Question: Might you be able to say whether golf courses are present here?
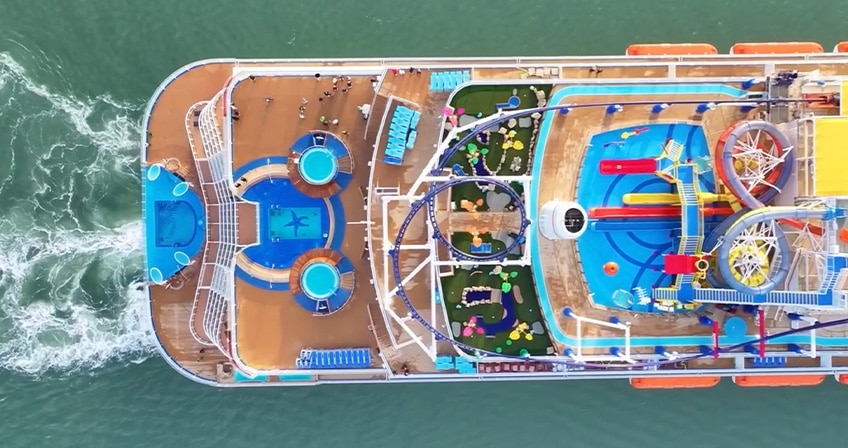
Yes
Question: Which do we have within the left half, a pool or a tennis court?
pool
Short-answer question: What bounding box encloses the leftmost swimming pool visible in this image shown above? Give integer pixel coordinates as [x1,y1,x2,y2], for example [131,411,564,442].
[147,166,206,284]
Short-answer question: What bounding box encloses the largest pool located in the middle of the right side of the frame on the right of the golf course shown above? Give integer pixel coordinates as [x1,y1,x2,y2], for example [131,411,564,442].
[574,117,729,318]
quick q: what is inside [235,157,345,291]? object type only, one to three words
swimming pool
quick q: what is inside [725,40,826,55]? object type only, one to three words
boat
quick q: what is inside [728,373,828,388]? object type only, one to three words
boat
